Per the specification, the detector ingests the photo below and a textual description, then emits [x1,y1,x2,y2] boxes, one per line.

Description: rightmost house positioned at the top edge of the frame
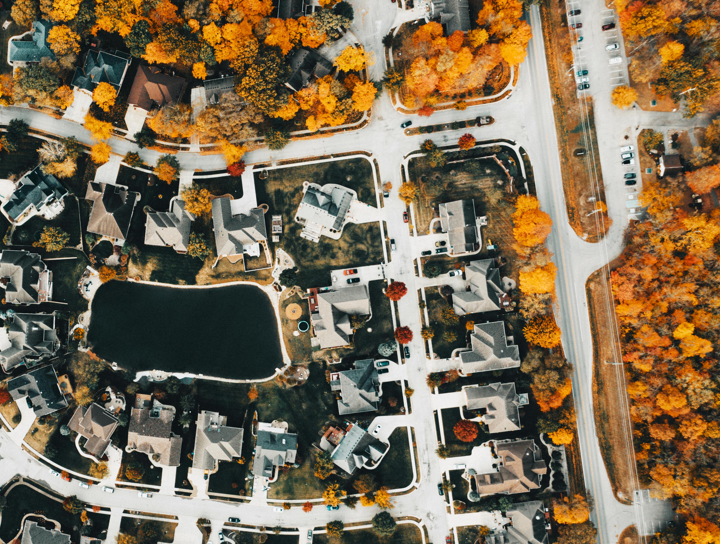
[428,0,471,36]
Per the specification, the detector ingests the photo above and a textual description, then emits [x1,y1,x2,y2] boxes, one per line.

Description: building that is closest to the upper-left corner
[10,20,58,64]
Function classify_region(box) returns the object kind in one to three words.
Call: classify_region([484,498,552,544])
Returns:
house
